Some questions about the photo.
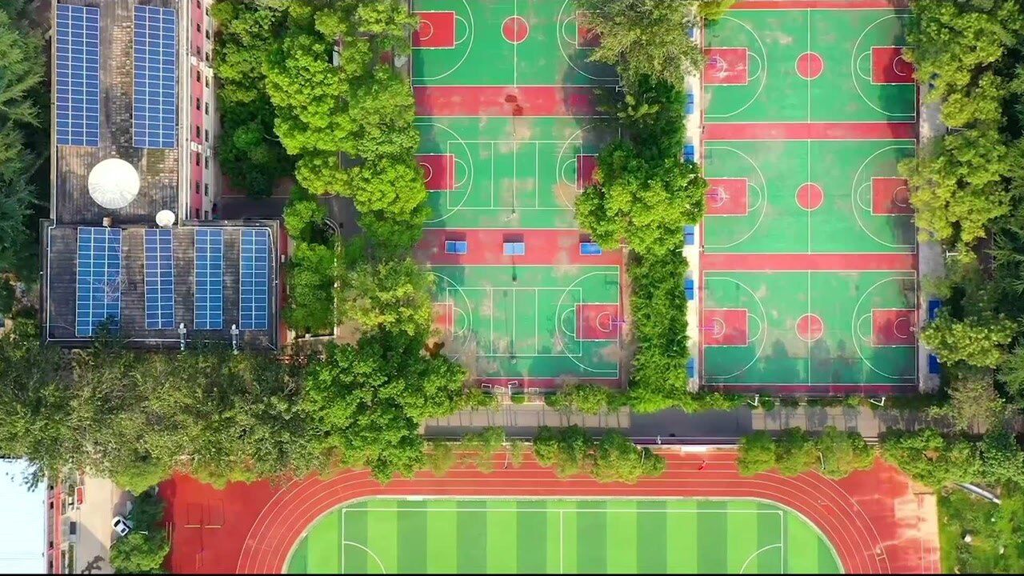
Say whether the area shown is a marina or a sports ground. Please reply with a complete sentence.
The area seen from above is a sports ground.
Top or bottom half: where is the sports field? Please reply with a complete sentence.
You can find the sports field in the bottom half.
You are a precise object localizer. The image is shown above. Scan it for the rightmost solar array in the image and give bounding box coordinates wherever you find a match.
[240,230,268,330]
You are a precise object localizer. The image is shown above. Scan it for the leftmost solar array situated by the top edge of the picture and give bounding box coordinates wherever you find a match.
[56,5,100,147]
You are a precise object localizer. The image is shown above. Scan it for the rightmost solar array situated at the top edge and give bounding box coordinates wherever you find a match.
[133,5,175,149]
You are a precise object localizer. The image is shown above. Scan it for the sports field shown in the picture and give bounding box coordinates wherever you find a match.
[287,500,842,576]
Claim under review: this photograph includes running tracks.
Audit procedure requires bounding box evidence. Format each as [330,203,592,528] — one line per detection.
[162,452,942,576]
